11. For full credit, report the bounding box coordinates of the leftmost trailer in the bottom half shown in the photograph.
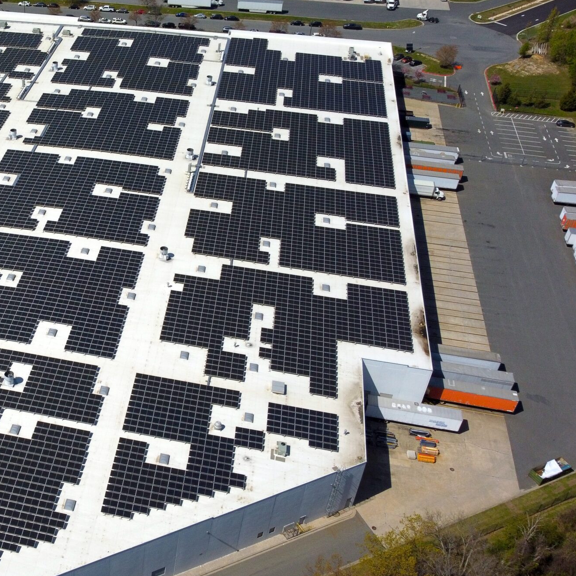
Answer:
[365,395,463,431]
